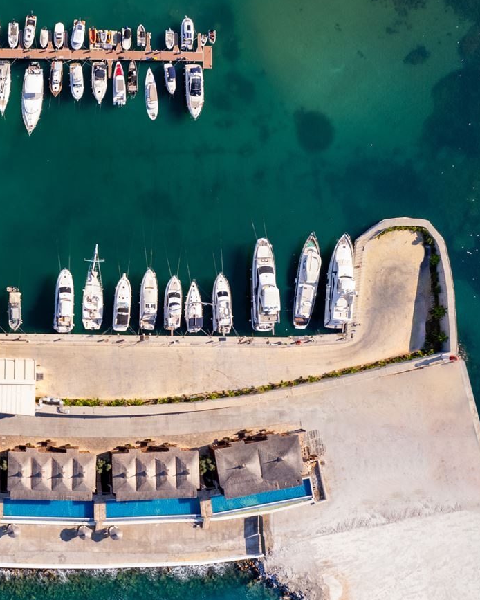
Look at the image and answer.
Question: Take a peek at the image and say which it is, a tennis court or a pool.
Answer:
pool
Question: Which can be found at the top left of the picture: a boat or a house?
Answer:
boat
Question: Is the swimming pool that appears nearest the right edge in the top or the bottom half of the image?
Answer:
bottom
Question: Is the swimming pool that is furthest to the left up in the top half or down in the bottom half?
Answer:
bottom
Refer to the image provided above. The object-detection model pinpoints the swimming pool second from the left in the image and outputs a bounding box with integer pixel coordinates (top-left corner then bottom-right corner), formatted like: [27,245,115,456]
[105,492,202,526]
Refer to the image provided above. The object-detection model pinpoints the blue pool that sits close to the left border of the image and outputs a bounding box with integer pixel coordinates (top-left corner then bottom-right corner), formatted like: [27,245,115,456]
[2,493,94,526]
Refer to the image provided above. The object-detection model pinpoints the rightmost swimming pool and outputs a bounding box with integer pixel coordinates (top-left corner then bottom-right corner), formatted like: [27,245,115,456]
[211,476,314,521]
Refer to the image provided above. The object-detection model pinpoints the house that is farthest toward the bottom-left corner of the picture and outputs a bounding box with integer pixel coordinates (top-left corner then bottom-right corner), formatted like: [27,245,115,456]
[9,448,96,501]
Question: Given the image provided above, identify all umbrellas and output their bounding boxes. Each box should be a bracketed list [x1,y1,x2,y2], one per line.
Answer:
[109,525,123,539]
[79,525,92,539]
[6,522,21,536]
